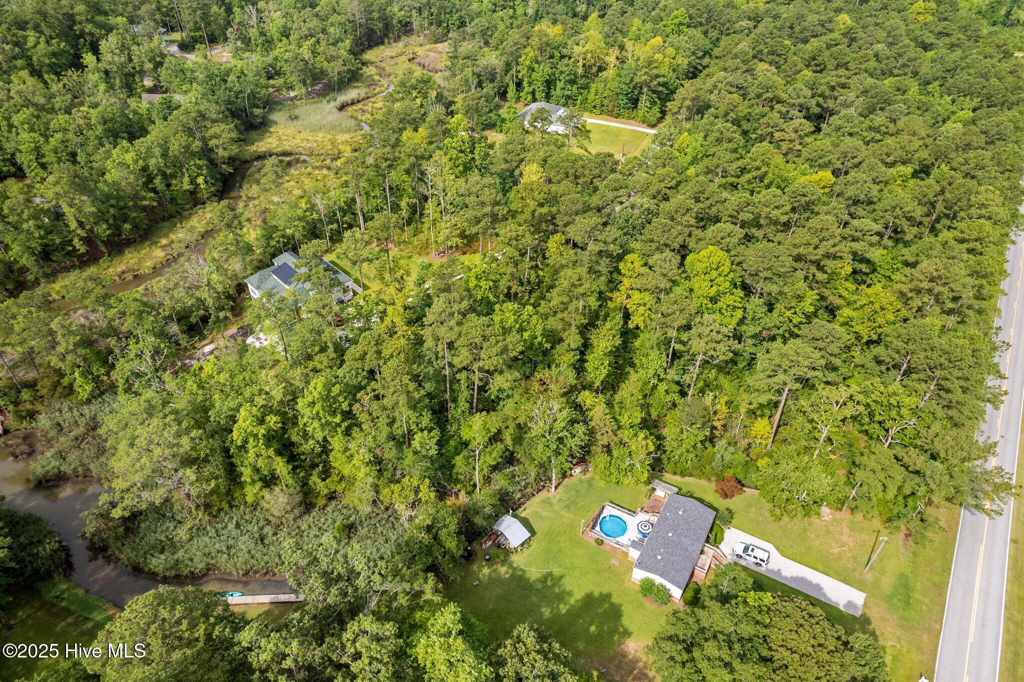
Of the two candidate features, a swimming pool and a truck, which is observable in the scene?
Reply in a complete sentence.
Looking from above, you can make out a swimming pool.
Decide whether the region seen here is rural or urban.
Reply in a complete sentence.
This place is rural.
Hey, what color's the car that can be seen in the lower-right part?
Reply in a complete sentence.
The car that can be seen in the lower-right part looks white in the image.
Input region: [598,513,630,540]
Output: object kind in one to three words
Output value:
swimming pool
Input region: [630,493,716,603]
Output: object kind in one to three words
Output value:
house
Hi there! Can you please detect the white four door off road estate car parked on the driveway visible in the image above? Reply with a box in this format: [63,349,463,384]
[732,543,770,567]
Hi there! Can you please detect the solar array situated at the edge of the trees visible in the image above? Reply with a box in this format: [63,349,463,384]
[264,259,304,281]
